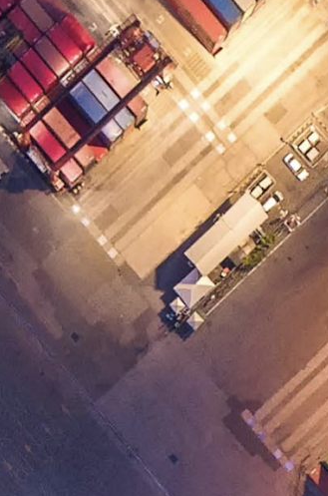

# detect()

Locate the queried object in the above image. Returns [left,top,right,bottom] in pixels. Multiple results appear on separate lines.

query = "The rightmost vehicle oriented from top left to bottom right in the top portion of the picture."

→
[282,153,309,184]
